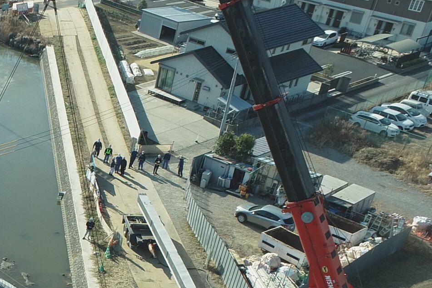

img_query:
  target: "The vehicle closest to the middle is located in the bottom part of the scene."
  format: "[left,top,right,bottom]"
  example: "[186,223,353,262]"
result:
[228,197,279,223]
